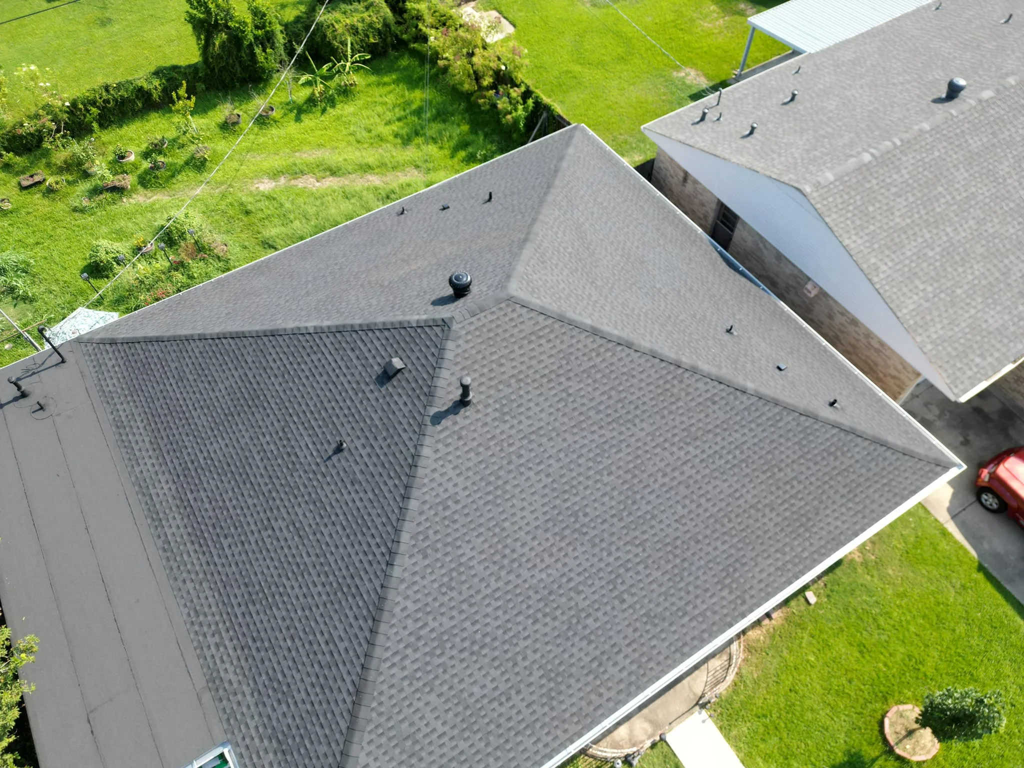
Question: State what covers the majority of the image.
buildings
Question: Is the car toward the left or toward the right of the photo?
right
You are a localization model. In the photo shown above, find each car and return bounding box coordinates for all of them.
[973,437,1024,534]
